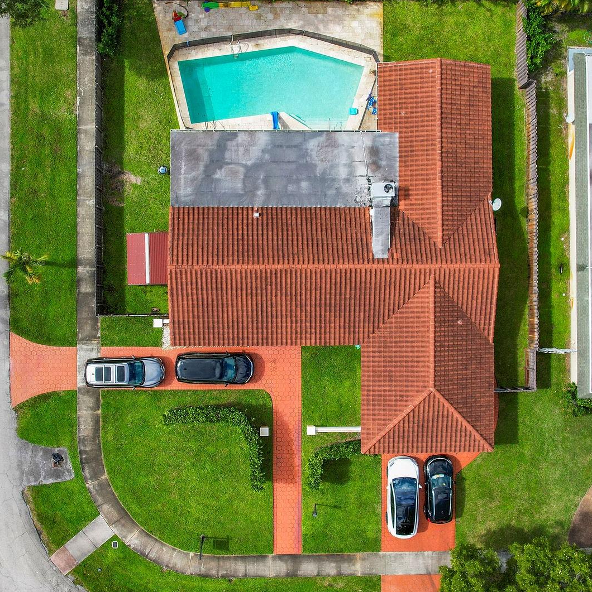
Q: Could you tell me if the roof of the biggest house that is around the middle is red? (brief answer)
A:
Yes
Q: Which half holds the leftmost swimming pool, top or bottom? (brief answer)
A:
top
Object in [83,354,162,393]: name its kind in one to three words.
car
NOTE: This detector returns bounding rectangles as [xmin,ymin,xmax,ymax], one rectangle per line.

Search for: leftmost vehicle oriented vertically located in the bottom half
[385,459,424,538]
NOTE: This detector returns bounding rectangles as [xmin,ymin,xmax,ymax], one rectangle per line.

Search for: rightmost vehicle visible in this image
[424,458,460,525]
